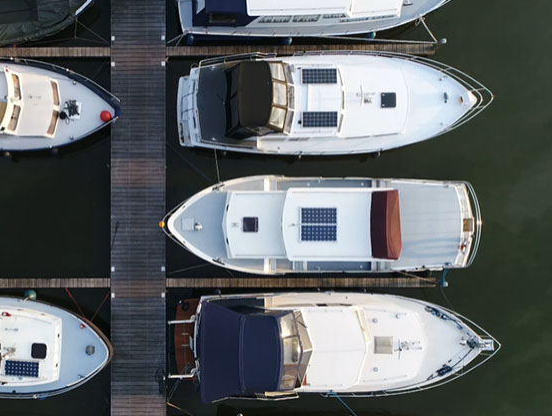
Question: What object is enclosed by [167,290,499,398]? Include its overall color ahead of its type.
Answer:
white boat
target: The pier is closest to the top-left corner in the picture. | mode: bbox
[0,47,111,59]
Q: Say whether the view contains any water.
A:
Yes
